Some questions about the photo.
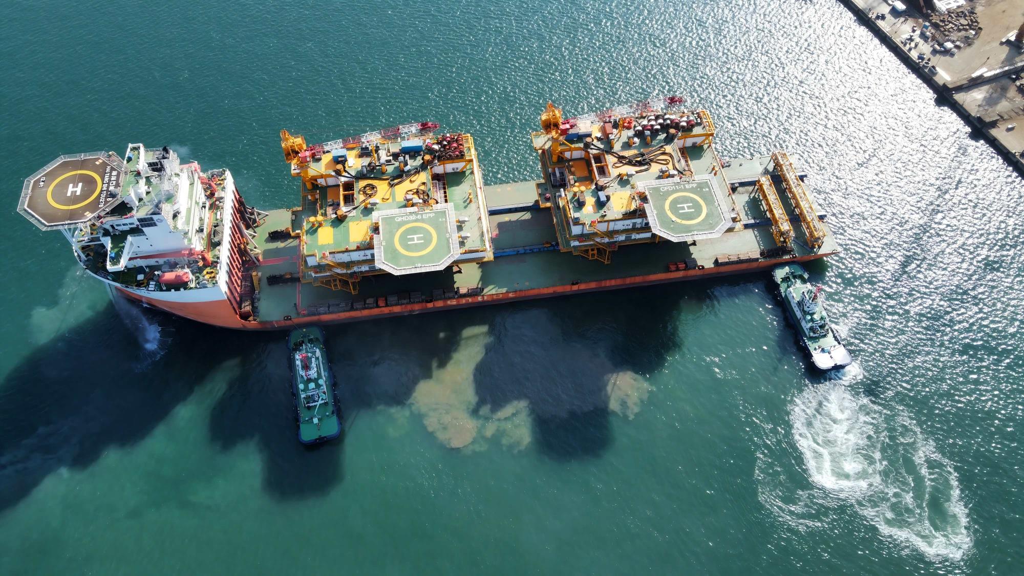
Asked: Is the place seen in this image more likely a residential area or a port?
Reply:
port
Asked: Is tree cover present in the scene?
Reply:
No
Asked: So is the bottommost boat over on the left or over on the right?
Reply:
left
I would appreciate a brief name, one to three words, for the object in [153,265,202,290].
boat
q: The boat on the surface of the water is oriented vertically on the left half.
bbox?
[288,320,342,450]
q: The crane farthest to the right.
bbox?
[533,94,690,176]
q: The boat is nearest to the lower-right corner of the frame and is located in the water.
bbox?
[775,259,852,375]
